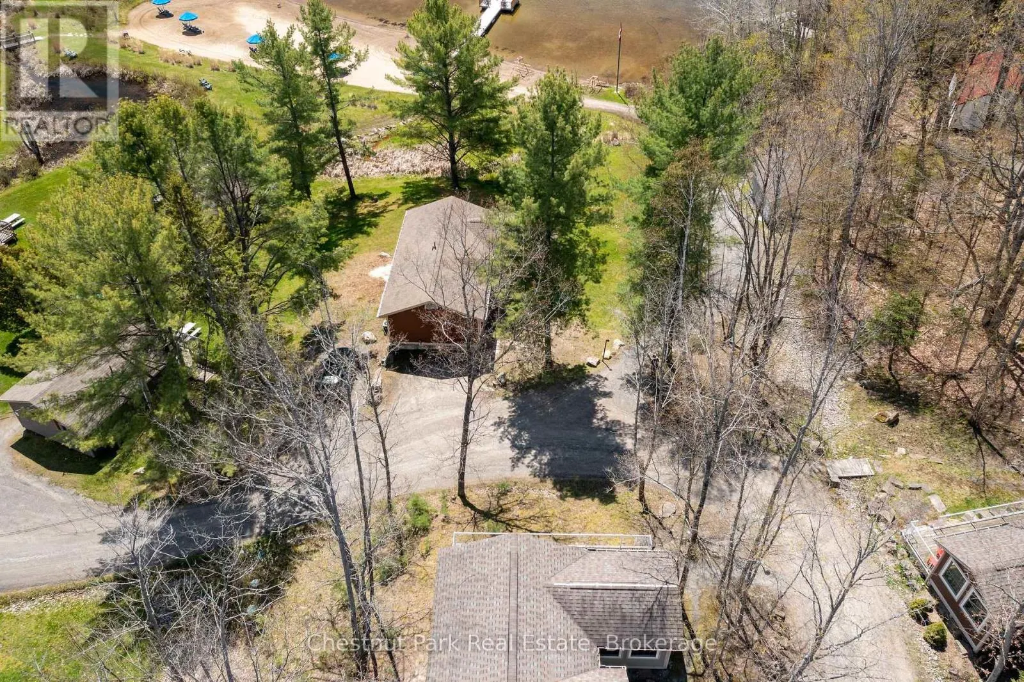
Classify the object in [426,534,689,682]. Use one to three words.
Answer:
house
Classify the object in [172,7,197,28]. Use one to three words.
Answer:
umbrella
